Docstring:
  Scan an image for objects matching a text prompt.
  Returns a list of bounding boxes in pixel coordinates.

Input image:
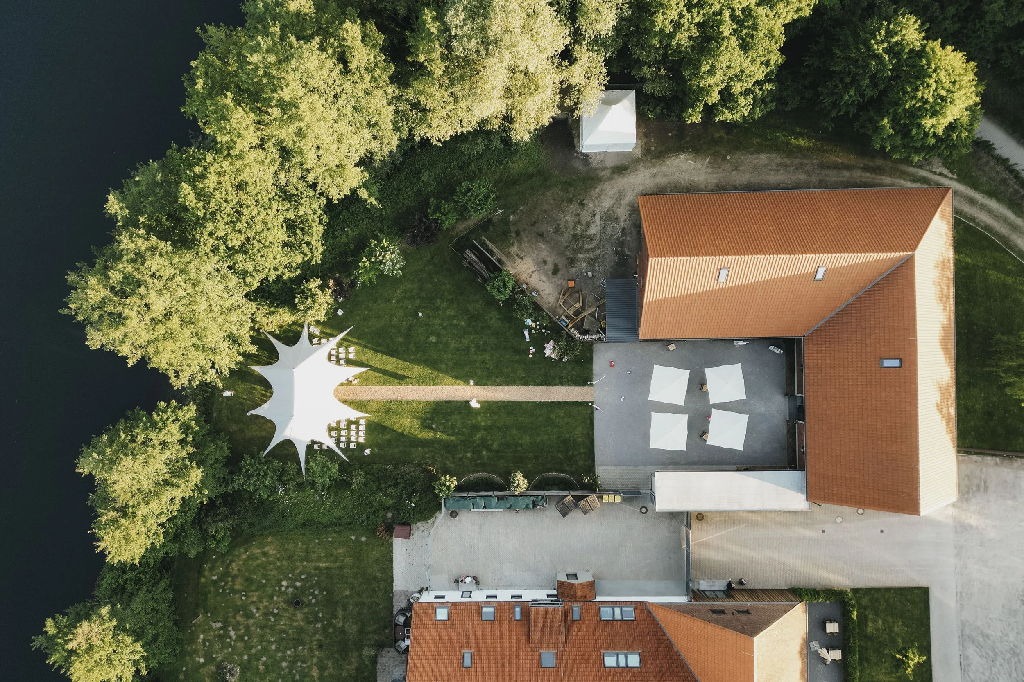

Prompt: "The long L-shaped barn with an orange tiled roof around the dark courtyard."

[635,185,960,515]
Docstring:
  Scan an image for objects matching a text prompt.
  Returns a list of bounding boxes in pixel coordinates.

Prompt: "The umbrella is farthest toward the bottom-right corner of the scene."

[809,641,830,661]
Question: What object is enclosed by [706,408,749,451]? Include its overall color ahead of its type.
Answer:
white umbrella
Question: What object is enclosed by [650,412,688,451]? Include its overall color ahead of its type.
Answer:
white umbrella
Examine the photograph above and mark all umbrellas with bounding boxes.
[809,641,830,661]
[706,408,749,451]
[650,412,688,451]
[704,363,746,404]
[648,365,690,406]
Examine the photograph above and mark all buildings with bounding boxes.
[635,185,960,515]
[394,522,412,538]
[404,579,809,682]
